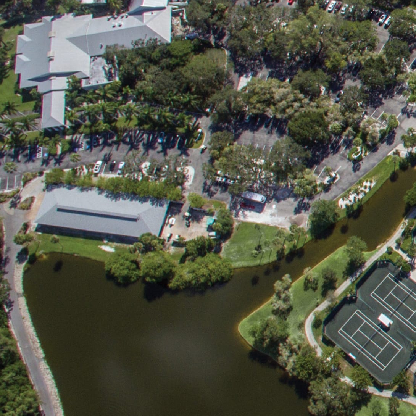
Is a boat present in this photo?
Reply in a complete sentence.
No, no boat can be seen from above.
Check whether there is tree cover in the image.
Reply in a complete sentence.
Yes, some tree cover is visible.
